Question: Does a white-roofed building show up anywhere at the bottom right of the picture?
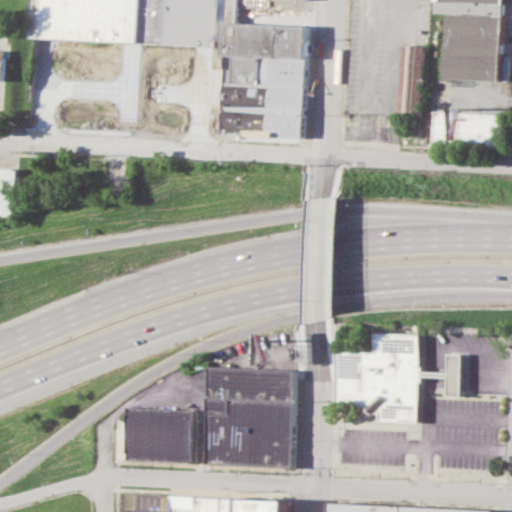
Yes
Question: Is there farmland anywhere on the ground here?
No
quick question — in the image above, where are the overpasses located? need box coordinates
[299,196,348,326]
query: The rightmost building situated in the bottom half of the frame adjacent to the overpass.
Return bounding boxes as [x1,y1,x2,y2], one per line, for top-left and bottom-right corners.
[336,326,422,422]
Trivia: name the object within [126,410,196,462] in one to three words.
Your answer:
building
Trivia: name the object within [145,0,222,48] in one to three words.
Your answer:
building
